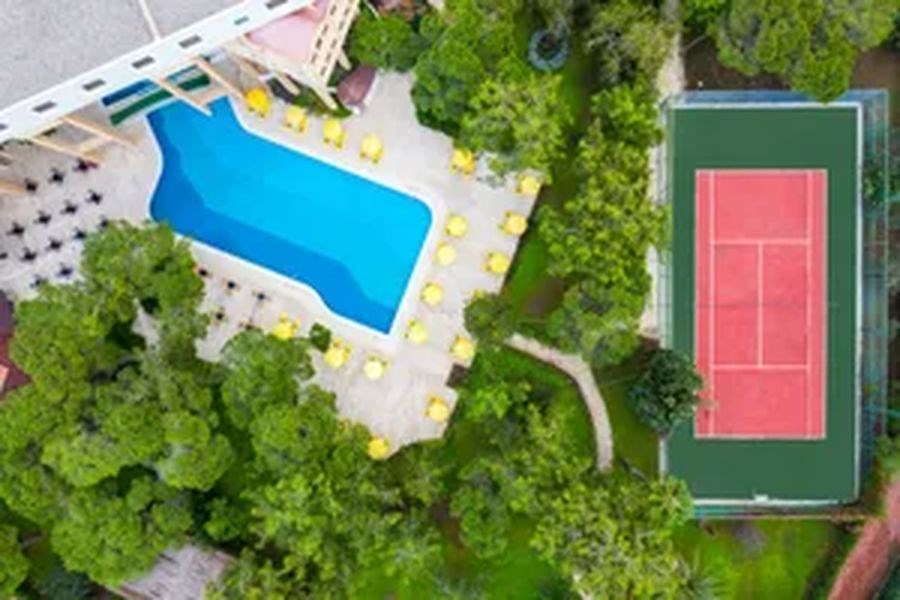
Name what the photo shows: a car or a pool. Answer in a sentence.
It is a pool that can be seen here.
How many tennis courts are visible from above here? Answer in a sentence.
I count 1 tennis court.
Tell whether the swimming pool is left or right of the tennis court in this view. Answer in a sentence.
The swimming pool is to the left of the tennis court.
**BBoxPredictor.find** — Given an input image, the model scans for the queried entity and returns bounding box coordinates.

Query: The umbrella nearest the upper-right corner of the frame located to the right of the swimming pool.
[518,173,541,196]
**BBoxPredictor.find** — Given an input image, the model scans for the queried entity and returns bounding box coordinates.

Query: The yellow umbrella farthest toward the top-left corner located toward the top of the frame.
[247,90,270,112]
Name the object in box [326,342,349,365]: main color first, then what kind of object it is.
yellow umbrella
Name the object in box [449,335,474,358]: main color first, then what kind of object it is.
yellow umbrella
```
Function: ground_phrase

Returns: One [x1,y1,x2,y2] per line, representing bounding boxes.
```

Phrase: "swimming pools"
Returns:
[144,96,436,334]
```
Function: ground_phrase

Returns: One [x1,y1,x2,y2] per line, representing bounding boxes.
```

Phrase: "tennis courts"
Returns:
[657,99,863,503]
